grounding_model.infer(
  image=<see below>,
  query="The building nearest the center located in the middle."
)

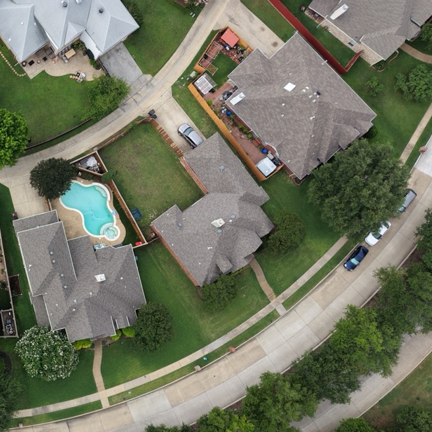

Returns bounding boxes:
[148,132,273,286]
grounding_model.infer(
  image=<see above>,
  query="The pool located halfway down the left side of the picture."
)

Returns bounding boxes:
[60,180,119,242]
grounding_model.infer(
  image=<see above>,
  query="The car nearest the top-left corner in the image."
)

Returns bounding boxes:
[177,121,202,150]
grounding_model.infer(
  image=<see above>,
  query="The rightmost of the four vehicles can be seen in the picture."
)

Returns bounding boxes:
[391,187,419,218]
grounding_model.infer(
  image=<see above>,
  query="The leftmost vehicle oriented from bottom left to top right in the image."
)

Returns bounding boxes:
[341,245,369,272]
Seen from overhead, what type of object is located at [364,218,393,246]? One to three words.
car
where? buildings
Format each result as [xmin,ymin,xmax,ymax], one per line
[148,132,273,286]
[222,32,379,180]
[0,0,139,67]
[11,209,146,345]
[317,0,432,67]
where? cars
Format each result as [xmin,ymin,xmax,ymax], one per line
[341,245,369,272]
[364,218,393,246]
[177,121,202,150]
[391,187,419,218]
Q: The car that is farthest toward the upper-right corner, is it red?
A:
No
